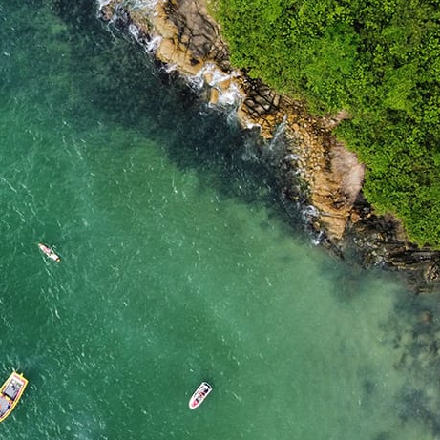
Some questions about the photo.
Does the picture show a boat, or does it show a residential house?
boat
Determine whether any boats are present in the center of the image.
No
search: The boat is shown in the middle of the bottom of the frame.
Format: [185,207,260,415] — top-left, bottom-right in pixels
[190,380,214,410]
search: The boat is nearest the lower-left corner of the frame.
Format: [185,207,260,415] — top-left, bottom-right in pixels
[0,370,28,423]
